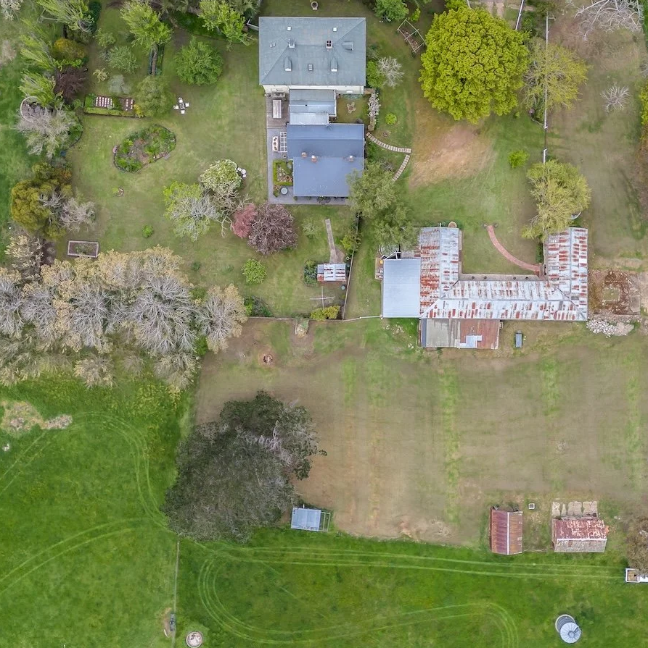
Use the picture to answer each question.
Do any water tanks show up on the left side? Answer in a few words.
No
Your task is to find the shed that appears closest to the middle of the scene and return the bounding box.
[318,263,346,281]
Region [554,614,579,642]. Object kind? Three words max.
water tank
